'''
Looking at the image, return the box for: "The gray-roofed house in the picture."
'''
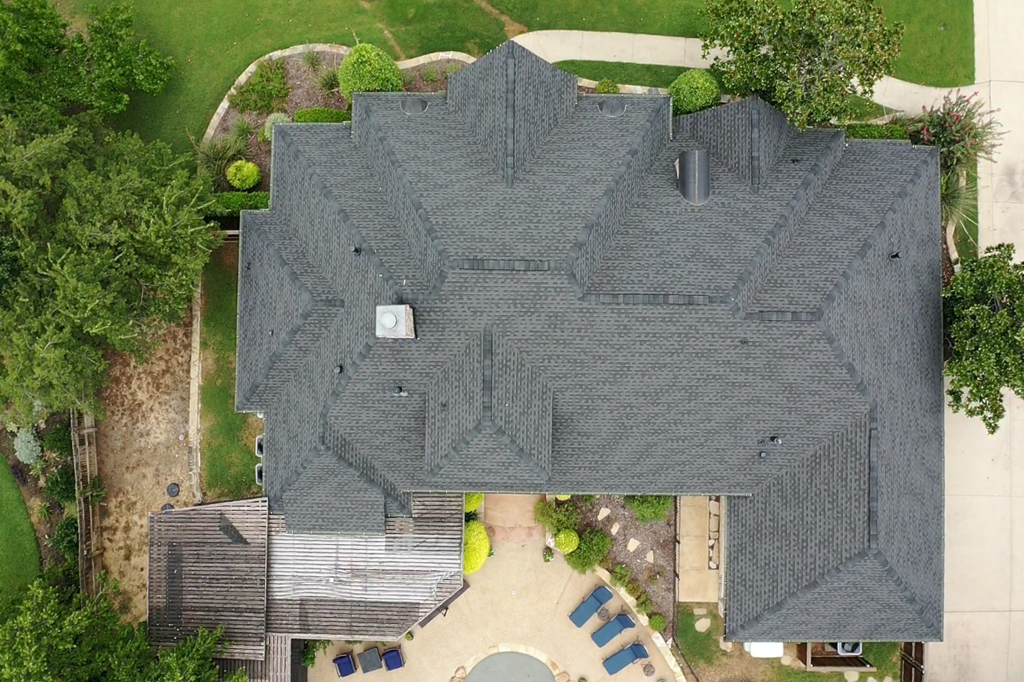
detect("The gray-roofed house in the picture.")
[233,34,947,645]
